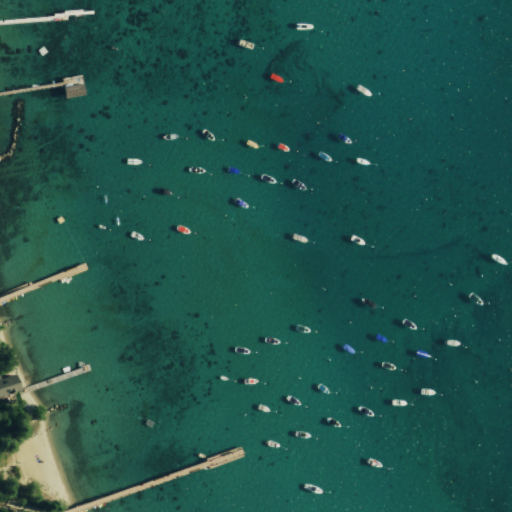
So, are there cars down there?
No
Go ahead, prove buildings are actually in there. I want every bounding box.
[65,83,86,98]
[2,376,20,388]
